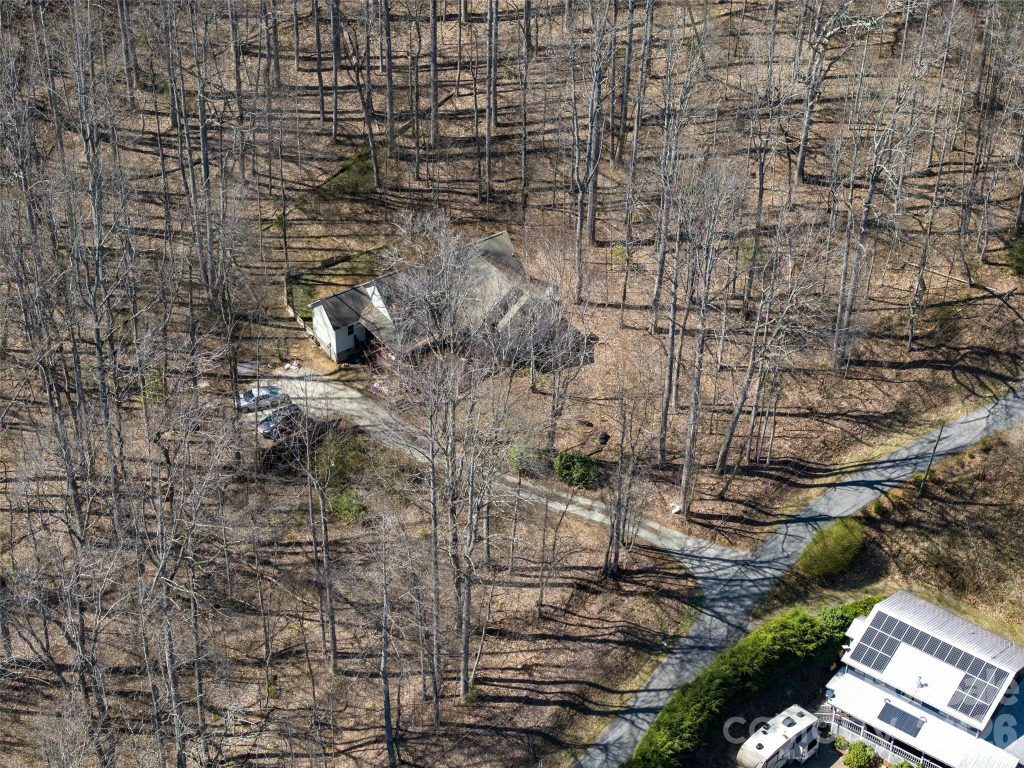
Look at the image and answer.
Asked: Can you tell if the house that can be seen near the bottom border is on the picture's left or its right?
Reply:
right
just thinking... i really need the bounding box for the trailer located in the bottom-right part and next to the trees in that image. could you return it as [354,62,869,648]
[731,704,821,768]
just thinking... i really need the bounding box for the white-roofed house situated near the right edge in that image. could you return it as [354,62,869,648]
[810,589,1024,768]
